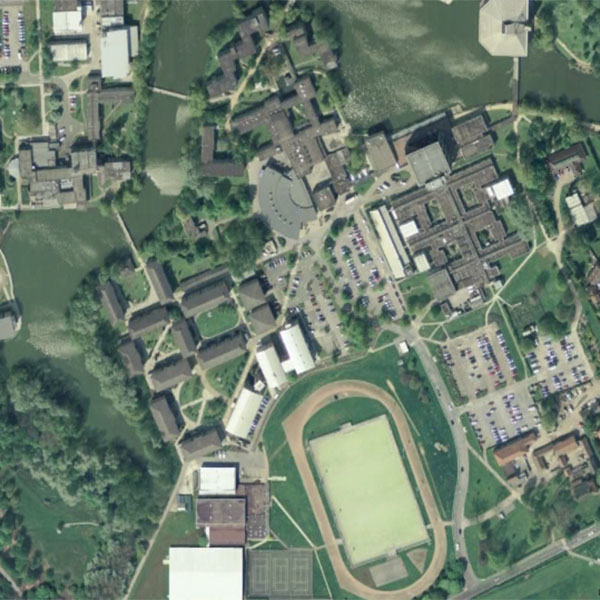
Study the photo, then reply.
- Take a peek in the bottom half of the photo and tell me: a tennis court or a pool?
tennis court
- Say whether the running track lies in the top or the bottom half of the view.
bottom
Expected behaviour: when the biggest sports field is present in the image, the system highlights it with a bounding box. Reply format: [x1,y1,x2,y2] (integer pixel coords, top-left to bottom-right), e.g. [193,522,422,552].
[309,414,431,568]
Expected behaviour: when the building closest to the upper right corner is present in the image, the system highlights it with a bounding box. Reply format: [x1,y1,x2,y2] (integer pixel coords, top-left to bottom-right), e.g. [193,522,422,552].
[478,0,531,57]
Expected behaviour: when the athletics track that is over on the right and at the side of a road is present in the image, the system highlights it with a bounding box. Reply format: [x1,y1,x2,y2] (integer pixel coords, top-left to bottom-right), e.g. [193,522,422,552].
[282,381,446,600]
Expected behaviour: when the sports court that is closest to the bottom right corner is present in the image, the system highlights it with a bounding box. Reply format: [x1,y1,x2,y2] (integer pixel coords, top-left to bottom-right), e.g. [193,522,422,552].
[370,558,408,587]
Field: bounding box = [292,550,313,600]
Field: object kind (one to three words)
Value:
tennis court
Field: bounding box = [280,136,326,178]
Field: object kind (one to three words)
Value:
building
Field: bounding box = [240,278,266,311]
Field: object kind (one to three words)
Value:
house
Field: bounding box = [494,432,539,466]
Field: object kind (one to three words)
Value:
barn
